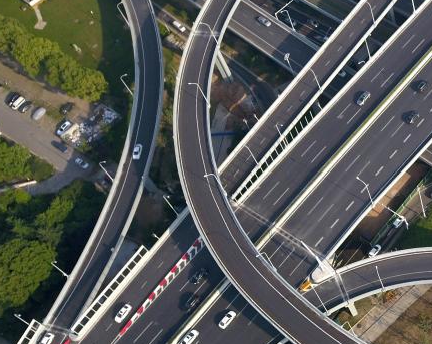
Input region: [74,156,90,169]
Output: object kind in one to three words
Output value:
vehicle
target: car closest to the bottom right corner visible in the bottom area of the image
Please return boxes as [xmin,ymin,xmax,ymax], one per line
[367,243,383,259]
